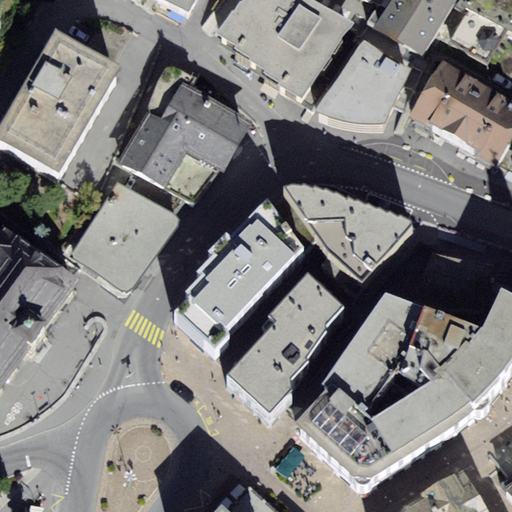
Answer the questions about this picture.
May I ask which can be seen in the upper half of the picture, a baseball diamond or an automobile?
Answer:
automobile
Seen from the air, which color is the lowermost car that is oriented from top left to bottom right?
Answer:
black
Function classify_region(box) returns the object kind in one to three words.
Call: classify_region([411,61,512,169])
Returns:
house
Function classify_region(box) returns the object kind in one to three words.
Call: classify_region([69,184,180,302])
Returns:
building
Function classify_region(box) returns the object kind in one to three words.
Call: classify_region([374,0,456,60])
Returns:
house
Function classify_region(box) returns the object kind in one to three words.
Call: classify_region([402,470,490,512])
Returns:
building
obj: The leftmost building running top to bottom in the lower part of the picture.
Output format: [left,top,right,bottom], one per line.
[0,226,84,406]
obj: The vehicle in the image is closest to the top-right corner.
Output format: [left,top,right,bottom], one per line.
[490,72,512,92]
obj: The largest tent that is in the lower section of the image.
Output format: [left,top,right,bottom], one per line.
[276,448,305,480]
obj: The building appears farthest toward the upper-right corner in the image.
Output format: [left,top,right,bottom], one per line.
[445,5,510,68]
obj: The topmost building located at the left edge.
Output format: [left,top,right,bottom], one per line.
[0,28,122,181]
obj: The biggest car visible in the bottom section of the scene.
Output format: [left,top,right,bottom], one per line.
[168,379,196,404]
